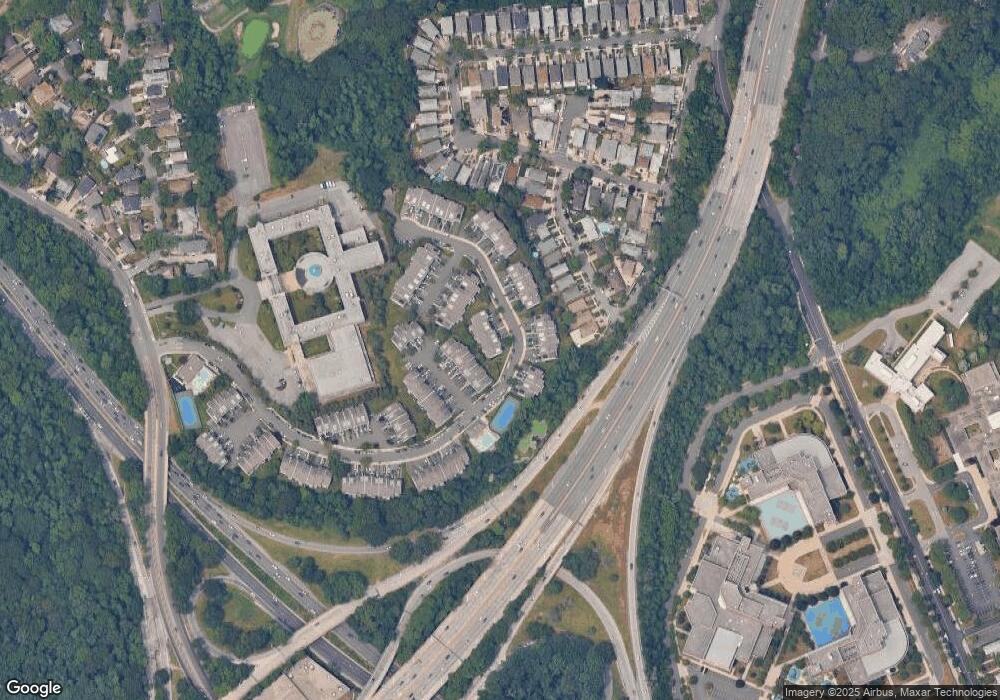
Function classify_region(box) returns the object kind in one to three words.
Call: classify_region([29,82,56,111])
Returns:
house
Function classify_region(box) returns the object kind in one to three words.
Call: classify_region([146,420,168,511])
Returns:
bridge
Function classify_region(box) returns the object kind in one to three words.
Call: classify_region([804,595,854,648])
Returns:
sports court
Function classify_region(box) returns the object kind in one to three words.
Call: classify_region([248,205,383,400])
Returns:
building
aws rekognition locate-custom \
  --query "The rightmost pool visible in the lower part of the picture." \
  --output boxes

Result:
[471,430,500,452]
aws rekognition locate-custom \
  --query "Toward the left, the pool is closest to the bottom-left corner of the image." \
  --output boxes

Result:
[194,364,219,392]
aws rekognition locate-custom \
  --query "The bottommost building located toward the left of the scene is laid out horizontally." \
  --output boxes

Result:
[250,656,351,700]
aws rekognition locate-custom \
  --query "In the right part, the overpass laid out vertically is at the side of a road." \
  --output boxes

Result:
[699,92,785,229]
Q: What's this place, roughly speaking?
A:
residential area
